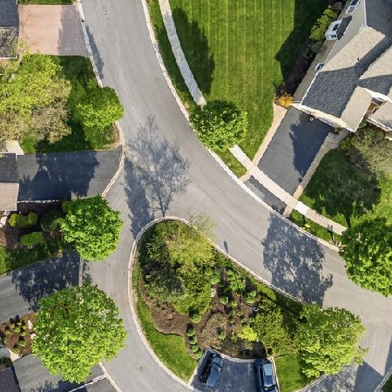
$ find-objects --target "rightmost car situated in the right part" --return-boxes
[254,358,277,392]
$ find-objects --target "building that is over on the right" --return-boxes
[292,0,392,134]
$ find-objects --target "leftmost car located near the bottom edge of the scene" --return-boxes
[197,350,223,387]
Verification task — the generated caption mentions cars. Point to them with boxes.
[254,358,277,392]
[197,350,223,387]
